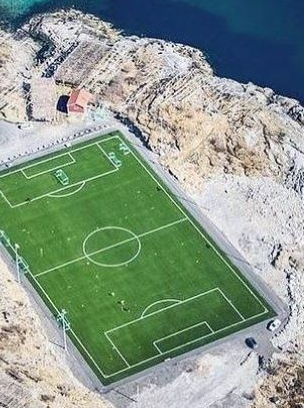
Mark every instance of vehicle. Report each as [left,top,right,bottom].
[268,320,281,331]
[244,339,260,348]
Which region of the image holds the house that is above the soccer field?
top left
